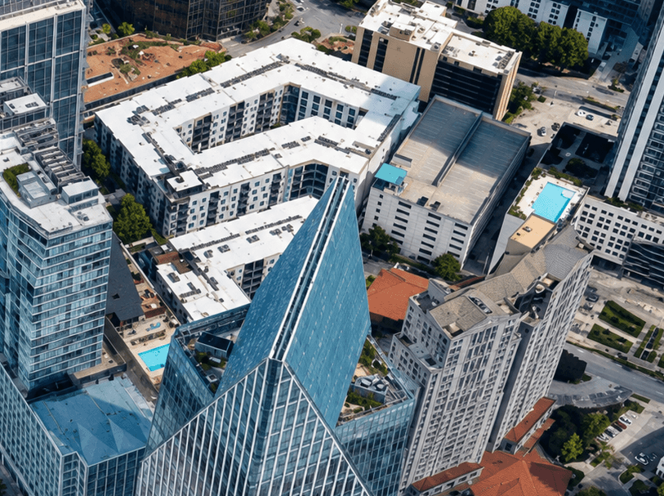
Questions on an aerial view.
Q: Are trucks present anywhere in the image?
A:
No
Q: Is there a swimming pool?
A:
Yes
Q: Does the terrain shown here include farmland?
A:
No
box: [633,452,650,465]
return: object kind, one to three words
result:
vehicle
